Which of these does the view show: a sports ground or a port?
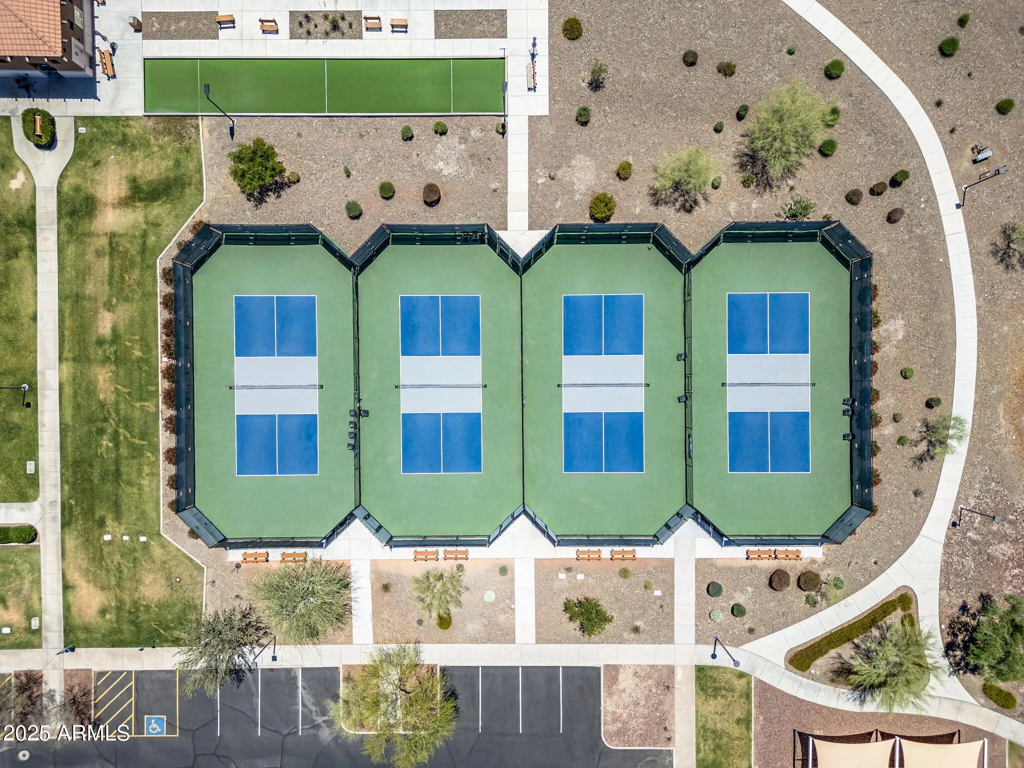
sports ground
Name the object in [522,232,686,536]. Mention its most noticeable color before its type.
green sports court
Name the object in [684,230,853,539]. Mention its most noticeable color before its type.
green sports court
